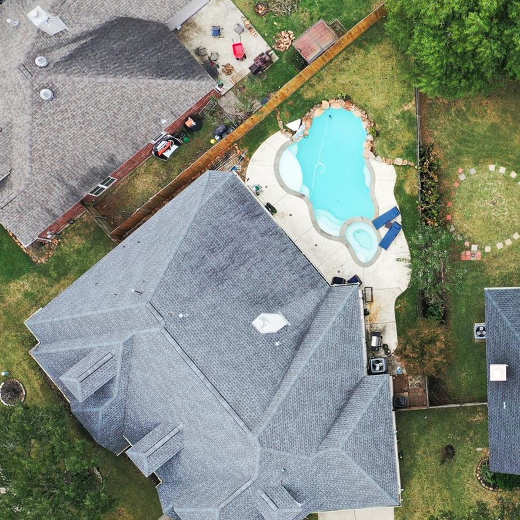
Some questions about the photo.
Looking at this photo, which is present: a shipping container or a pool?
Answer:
pool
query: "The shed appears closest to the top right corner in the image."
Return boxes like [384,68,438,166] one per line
[292,19,340,64]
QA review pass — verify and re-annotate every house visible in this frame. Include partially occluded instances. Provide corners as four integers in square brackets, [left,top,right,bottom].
[0,0,225,248]
[484,286,520,475]
[22,169,402,520]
